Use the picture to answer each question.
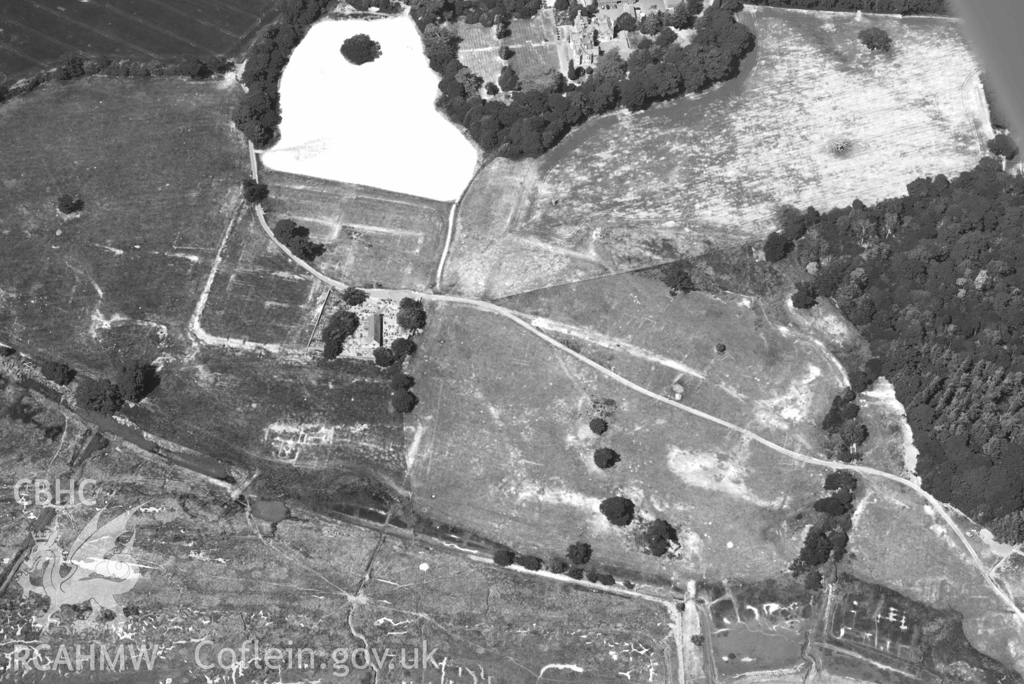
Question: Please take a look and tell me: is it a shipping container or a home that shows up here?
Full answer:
Looking from above, you can make out a home.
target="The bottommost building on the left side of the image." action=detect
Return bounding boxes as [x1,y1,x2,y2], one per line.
[360,312,384,348]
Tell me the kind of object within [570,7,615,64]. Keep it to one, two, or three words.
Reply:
house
